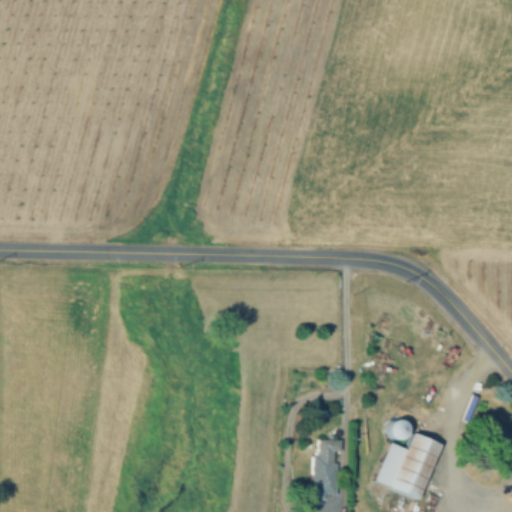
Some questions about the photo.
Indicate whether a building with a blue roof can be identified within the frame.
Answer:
No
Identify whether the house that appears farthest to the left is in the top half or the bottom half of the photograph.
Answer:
bottom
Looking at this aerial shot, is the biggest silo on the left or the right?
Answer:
right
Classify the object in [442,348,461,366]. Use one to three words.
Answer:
work vehicle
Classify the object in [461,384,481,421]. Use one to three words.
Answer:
vehicle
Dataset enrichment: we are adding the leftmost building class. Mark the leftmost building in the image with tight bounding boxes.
[312,440,344,496]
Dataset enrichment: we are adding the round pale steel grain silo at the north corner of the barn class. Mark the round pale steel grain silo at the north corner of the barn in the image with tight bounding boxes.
[385,419,412,440]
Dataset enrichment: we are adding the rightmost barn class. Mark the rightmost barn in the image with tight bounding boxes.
[374,433,443,500]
